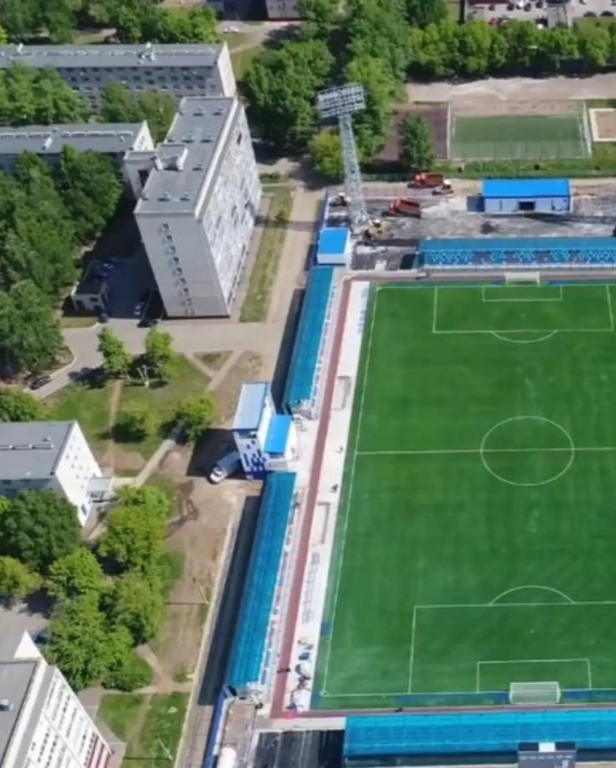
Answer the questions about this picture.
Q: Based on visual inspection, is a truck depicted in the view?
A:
Yes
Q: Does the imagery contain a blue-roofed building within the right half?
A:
Yes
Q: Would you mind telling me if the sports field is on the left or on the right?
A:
right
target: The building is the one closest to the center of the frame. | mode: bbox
[233,383,309,475]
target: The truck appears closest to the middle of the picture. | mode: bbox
[205,444,244,486]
